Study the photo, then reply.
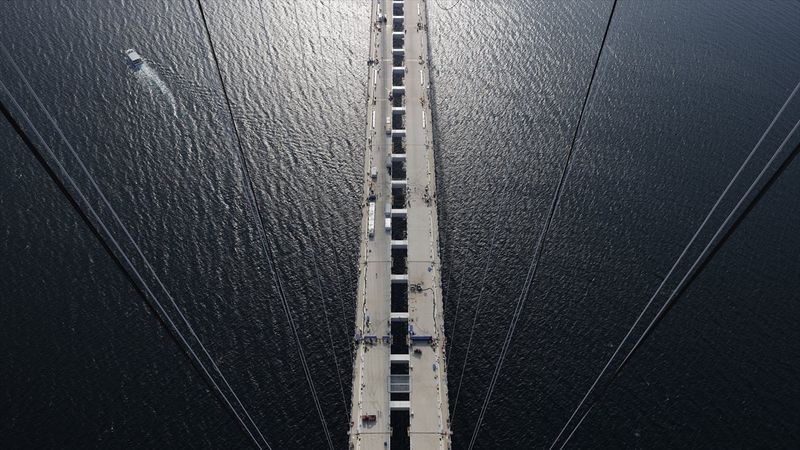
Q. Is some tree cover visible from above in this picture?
No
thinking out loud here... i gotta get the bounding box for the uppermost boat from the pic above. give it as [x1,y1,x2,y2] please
[126,49,143,67]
